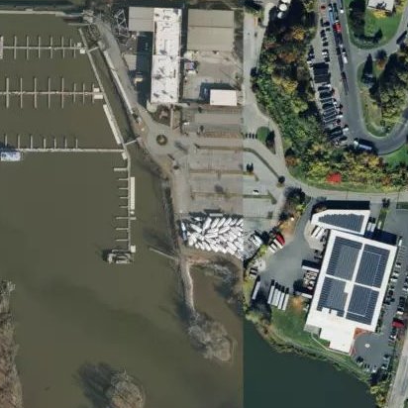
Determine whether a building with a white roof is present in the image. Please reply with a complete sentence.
Yes, the picture does show a building with a white roof.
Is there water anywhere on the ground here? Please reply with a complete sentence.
Yes, the picture does contain water.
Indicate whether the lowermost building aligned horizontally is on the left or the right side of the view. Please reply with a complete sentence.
You can find the lowermost building aligned horizontally on the right side of the picture.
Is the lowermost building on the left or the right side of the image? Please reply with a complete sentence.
The lowermost building appears in the right half of the scene.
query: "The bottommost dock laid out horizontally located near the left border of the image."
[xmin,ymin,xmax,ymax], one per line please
[0,135,124,151]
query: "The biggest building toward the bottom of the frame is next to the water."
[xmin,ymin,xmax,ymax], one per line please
[305,230,398,355]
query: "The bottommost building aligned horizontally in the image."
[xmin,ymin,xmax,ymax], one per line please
[312,209,371,235]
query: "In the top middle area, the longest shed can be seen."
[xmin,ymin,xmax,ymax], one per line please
[150,7,181,102]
